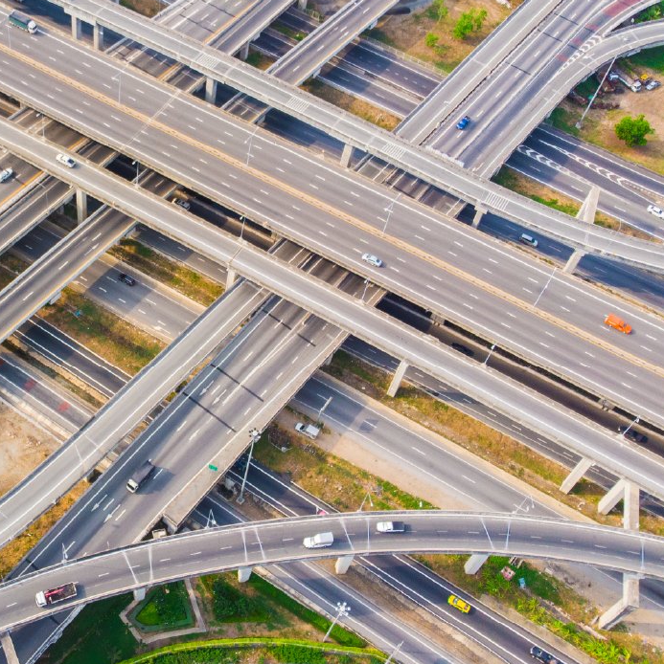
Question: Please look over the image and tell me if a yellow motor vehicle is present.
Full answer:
Yes, a yellow motor vehicle is visible in the scene.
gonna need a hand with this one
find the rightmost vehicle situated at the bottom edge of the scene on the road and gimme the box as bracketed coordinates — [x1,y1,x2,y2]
[531,647,560,664]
